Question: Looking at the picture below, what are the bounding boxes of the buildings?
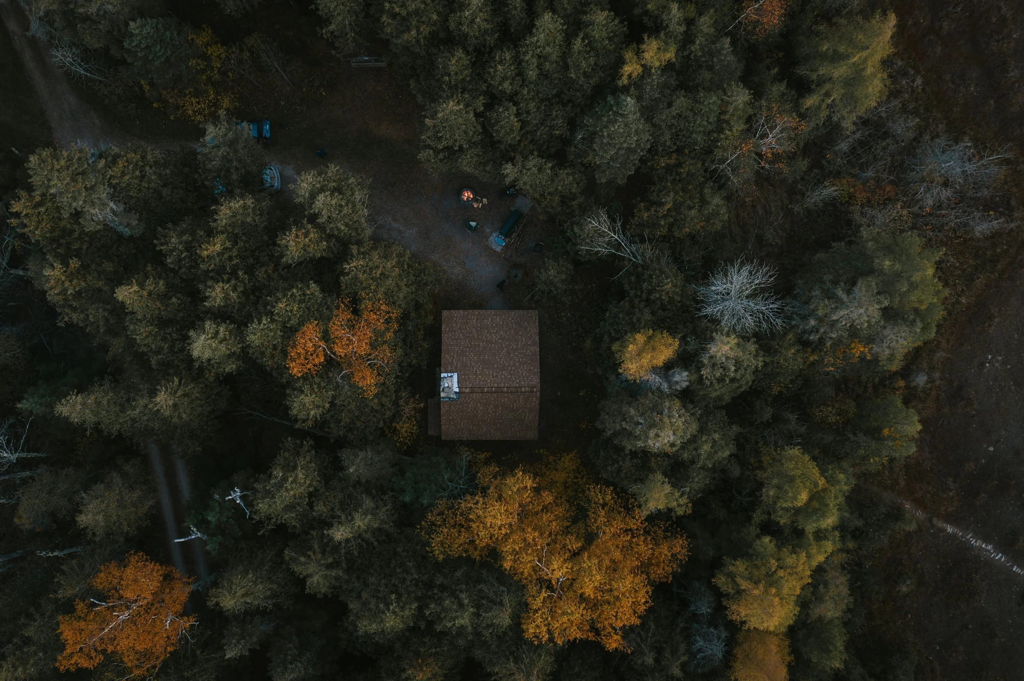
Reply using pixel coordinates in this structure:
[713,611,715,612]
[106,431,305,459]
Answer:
[428,310,539,441]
